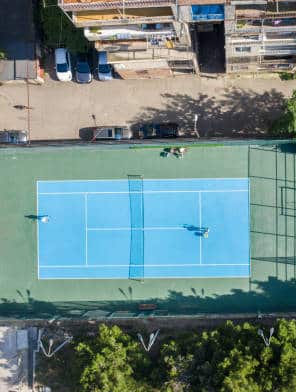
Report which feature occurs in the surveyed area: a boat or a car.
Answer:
car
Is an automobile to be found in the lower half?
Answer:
No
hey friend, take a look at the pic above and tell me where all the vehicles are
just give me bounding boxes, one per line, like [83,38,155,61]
[94,124,134,143]
[50,48,71,86]
[72,50,92,88]
[138,121,179,141]
[94,50,114,87]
